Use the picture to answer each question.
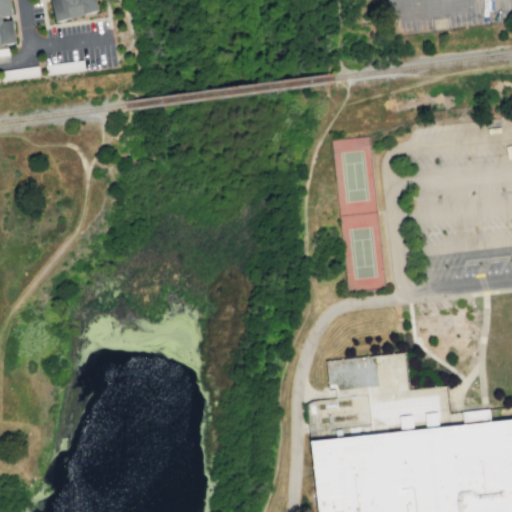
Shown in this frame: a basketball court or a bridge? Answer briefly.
bridge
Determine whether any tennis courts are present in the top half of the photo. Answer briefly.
Yes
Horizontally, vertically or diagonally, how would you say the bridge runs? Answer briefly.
horizontally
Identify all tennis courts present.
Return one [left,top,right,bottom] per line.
[334,138,378,215]
[341,212,385,291]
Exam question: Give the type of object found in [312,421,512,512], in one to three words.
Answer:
building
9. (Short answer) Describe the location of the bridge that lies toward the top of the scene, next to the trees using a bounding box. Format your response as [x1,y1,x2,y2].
[124,75,335,109]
